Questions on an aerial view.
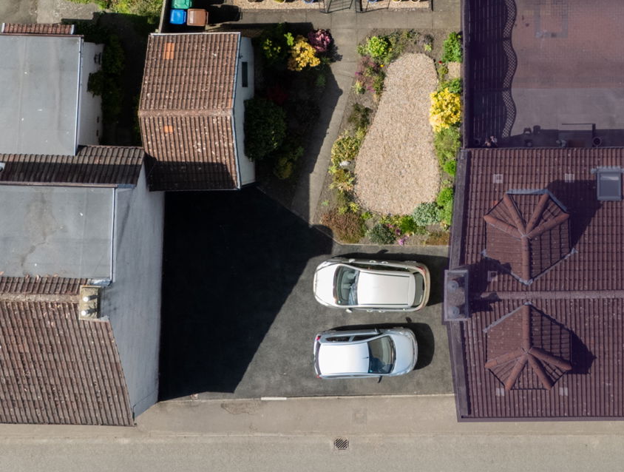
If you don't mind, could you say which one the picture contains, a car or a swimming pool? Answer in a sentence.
Of the two, only a car appears.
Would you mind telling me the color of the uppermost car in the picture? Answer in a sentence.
From above, the uppermost car appears white.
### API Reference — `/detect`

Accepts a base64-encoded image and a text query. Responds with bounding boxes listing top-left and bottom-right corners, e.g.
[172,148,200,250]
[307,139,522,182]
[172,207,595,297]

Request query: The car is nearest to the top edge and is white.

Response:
[312,256,431,319]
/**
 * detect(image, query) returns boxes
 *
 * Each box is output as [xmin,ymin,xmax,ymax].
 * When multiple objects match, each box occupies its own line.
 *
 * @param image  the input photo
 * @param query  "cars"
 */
[312,256,431,319]
[310,326,418,388]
